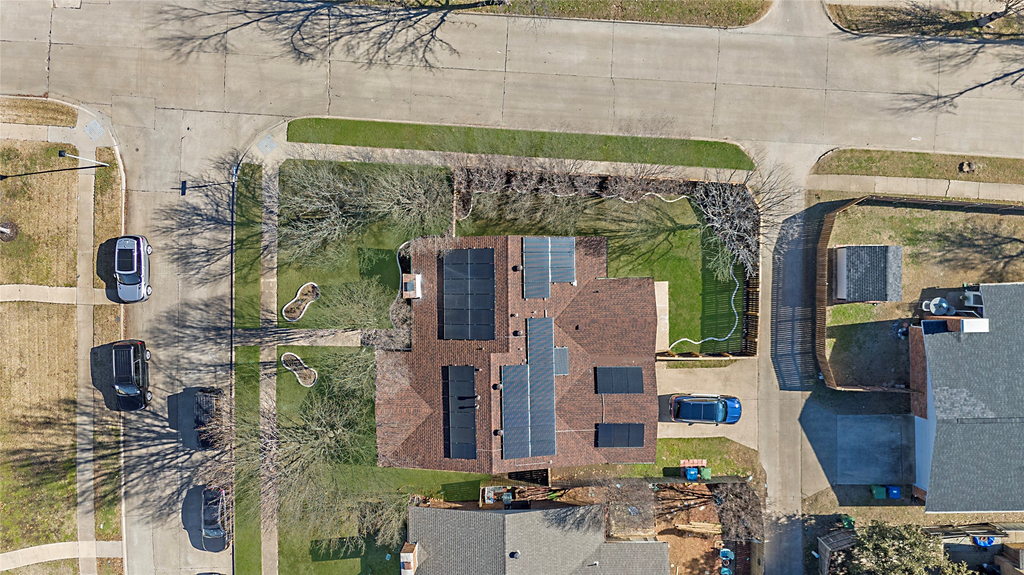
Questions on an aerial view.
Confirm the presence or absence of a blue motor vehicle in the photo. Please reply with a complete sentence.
Yes, looking at the shot, I can spot a blue motor vehicle.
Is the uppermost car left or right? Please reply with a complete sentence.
The uppermost car is on the left side of the image.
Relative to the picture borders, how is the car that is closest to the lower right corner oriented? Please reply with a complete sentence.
In this picture, the car that is closest to the lower right corner is oriented from left to right.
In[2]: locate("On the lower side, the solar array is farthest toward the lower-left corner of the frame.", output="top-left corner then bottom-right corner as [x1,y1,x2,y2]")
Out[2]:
[448,366,476,459]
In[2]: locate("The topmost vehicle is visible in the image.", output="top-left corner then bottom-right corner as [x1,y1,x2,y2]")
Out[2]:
[110,235,150,301]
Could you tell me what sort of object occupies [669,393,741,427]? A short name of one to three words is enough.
car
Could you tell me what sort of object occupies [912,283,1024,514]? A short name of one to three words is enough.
house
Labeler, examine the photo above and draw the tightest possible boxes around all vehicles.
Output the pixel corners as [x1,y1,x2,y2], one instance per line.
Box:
[197,485,233,552]
[110,341,152,413]
[669,393,741,427]
[195,387,232,453]
[110,235,150,301]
